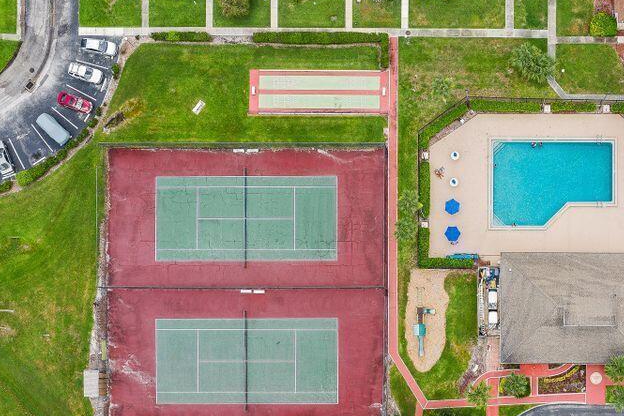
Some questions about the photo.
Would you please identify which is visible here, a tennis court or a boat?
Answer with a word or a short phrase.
tennis court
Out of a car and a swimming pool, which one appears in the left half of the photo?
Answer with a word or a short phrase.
car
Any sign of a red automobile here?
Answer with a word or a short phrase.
Yes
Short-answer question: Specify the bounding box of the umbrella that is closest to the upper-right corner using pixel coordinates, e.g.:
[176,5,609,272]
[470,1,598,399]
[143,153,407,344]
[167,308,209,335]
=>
[445,198,459,214]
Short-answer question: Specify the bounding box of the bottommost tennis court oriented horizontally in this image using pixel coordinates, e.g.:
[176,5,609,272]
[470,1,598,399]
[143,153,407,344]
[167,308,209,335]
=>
[107,290,384,416]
